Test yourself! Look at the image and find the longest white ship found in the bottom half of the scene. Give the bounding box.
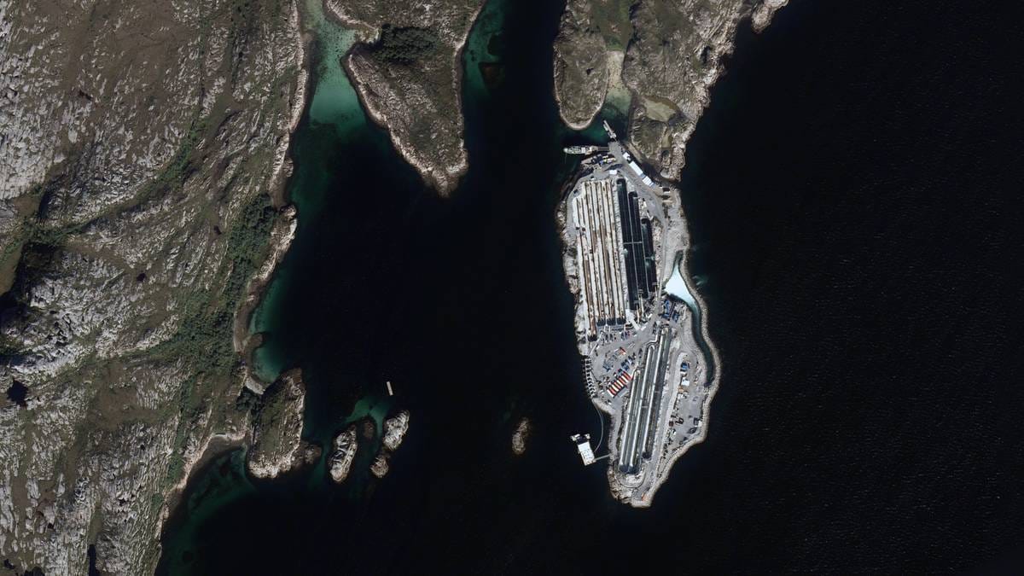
[574,435,595,466]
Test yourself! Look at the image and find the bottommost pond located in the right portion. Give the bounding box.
[663,248,716,383]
